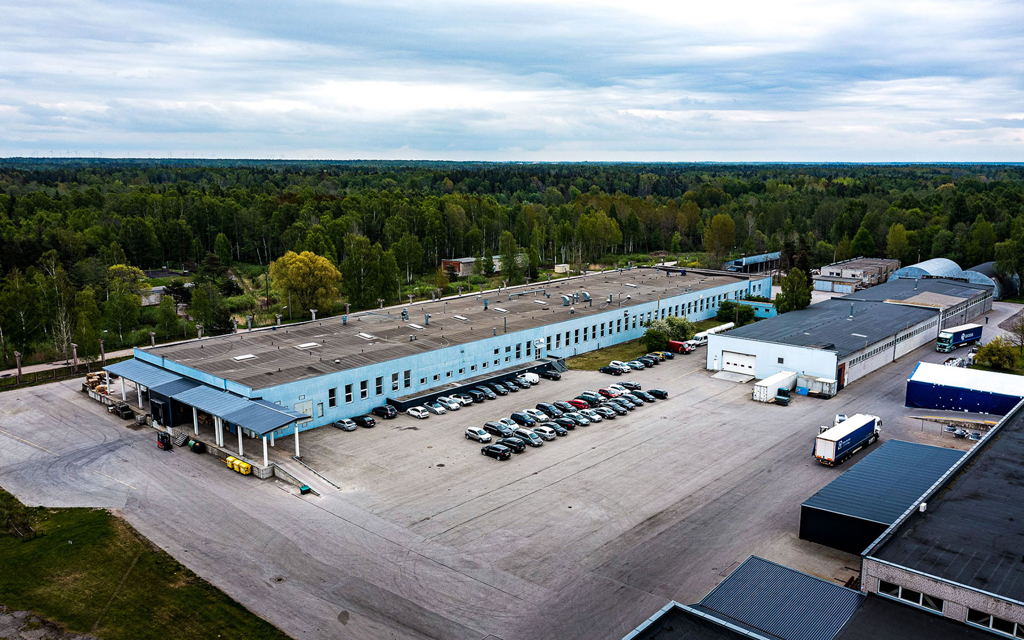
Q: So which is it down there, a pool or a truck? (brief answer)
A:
truck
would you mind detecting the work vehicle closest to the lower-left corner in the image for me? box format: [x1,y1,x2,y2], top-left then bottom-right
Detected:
[156,433,178,450]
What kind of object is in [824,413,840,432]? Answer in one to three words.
work vehicle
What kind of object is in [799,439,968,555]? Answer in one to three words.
shed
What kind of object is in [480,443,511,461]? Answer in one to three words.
car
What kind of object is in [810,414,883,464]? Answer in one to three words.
truck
